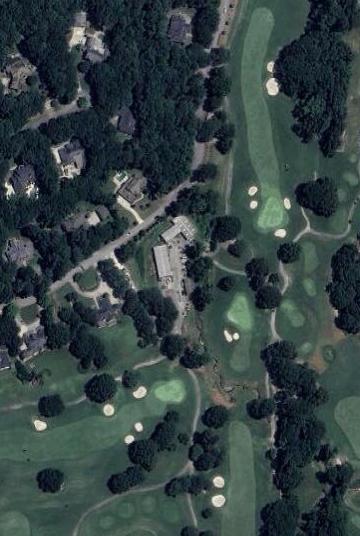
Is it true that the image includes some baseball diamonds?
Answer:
No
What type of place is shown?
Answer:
golf course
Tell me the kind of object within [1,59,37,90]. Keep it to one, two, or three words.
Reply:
house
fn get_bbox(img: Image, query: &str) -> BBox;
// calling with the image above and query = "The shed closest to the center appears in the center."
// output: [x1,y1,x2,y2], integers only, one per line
[154,244,173,278]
